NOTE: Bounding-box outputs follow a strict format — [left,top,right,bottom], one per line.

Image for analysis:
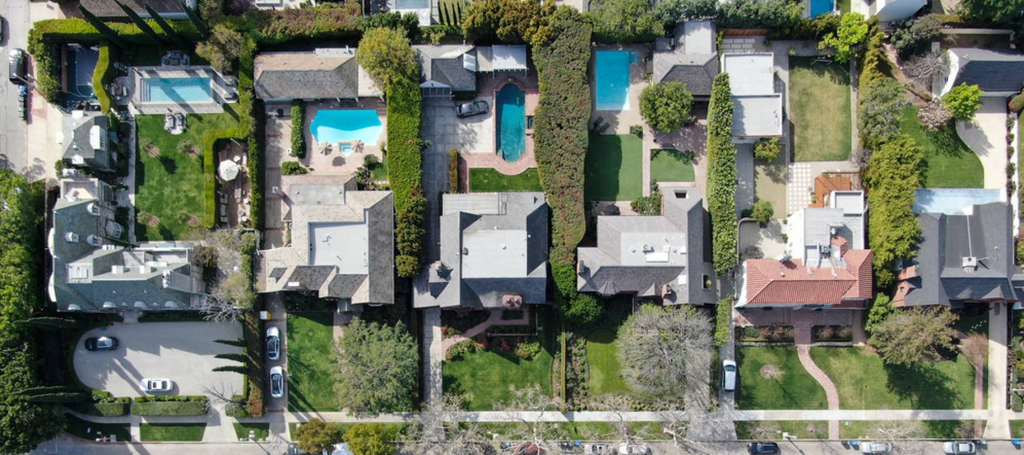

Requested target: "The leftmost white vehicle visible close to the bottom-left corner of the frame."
[141,378,175,393]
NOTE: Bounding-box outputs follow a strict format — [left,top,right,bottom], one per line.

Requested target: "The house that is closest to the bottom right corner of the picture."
[883,203,1024,309]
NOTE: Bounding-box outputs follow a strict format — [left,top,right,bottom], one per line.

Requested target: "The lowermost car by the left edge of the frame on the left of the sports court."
[8,50,28,85]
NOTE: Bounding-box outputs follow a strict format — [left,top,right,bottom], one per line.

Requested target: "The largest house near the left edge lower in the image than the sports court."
[47,178,215,312]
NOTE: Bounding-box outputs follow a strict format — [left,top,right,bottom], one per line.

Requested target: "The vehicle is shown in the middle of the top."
[456,100,489,117]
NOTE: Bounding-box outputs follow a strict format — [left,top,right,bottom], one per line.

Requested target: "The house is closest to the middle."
[414,192,547,311]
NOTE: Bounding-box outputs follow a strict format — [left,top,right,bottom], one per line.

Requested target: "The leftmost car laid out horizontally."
[85,336,120,351]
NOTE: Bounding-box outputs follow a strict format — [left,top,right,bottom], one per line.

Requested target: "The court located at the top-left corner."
[67,44,106,116]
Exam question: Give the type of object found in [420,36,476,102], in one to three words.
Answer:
building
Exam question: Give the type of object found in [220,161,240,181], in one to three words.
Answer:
umbrella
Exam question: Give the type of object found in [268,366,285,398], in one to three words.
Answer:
car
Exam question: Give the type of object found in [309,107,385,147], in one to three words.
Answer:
swimming pool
